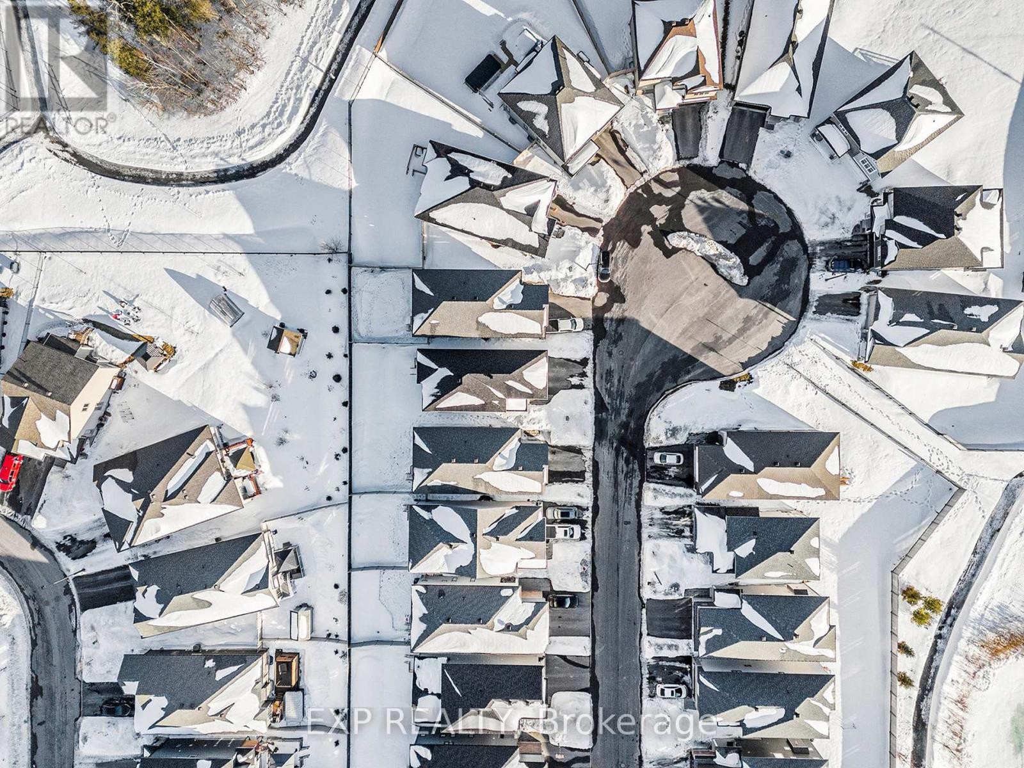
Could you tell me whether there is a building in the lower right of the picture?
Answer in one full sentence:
Yes, there is a building in the lower right of the picture.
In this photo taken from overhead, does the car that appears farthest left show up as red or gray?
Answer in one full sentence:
The car that appears farthest left looks red in the image.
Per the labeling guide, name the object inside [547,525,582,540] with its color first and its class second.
white vehicle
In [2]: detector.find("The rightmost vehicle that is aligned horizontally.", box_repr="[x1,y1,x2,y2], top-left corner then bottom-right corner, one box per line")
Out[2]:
[827,256,866,271]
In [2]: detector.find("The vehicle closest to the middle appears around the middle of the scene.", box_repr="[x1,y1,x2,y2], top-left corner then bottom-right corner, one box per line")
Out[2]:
[548,316,585,331]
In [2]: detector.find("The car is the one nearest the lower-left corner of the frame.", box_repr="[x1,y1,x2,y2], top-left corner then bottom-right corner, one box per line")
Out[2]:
[100,698,131,715]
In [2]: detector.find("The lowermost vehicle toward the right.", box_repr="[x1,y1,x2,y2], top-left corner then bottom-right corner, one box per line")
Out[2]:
[656,683,686,699]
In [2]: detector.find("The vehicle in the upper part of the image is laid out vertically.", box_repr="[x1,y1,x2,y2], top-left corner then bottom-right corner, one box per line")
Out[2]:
[597,250,611,281]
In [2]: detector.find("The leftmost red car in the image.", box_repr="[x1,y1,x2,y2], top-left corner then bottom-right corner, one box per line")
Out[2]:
[0,456,22,489]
